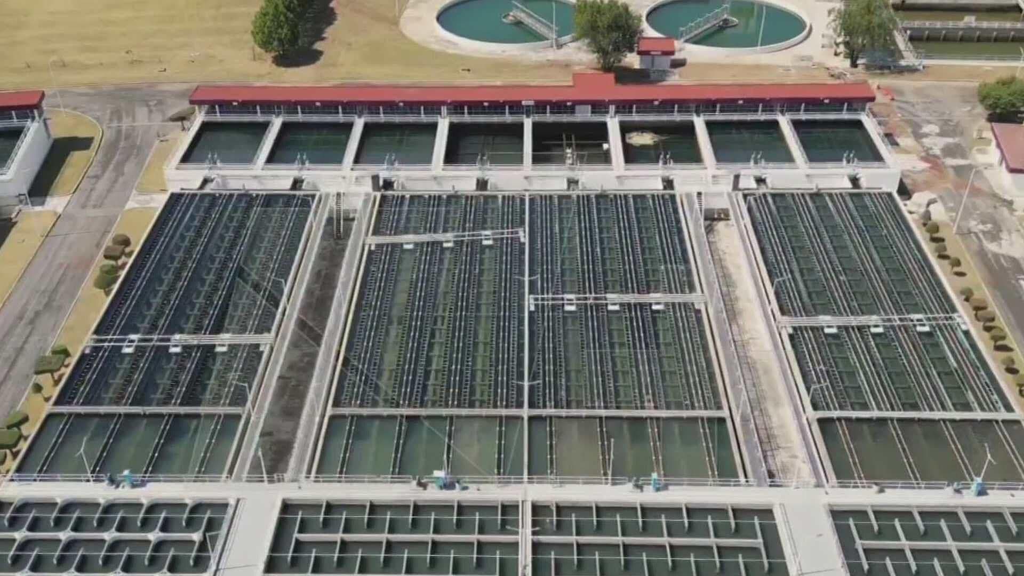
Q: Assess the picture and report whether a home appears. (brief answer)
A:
Yes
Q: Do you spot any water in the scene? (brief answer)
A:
Yes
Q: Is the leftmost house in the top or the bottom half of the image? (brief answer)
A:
top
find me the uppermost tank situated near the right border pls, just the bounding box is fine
[738,193,1024,486]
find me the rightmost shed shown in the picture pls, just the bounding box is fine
[990,123,1024,192]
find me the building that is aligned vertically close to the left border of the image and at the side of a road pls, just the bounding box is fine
[0,83,68,232]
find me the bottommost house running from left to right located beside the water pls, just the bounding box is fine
[165,71,900,196]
